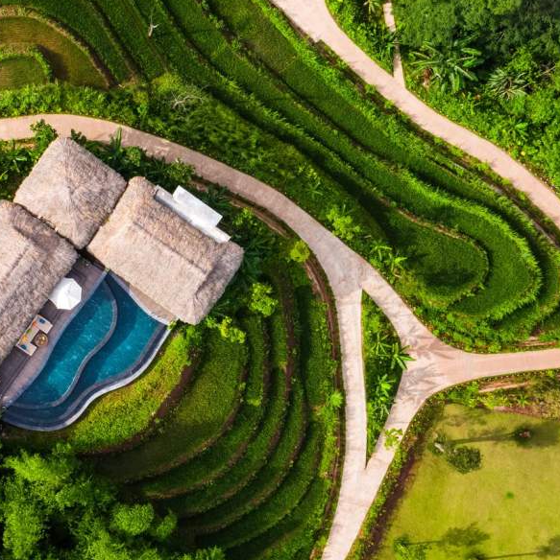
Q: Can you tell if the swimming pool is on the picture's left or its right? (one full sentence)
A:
The swimming pool is on the left side of the image.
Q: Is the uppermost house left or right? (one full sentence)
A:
It is on the left.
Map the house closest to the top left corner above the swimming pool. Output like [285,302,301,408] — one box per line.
[13,136,128,251]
